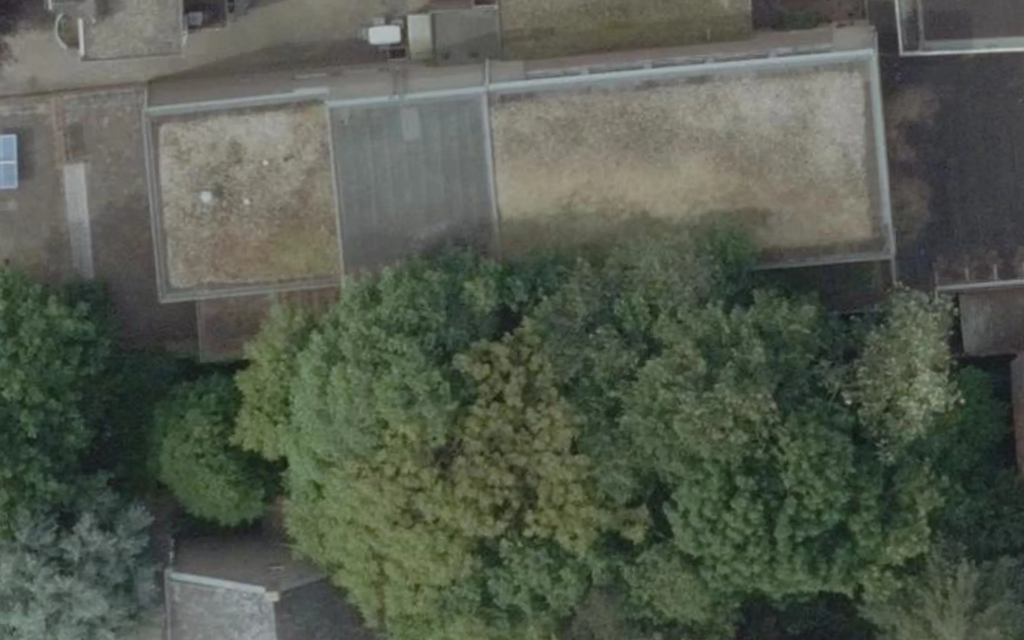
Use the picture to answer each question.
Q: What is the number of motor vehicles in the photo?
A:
0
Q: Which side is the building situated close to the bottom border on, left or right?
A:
left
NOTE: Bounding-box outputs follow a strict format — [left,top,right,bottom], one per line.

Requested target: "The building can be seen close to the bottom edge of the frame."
[165,562,279,640]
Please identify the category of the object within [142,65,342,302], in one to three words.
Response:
house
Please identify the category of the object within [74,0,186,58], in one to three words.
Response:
building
